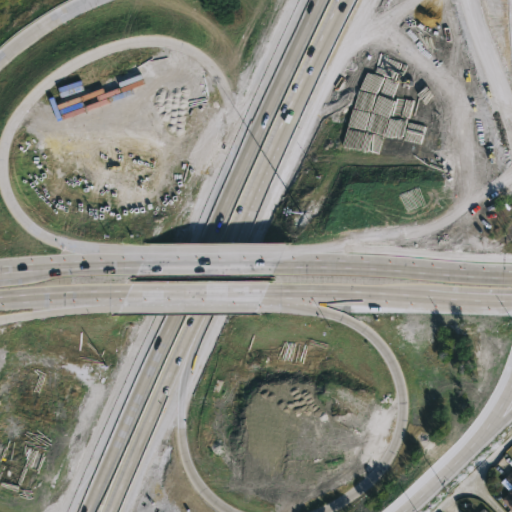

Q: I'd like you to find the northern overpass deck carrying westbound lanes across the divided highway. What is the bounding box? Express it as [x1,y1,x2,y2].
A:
[136,244,288,276]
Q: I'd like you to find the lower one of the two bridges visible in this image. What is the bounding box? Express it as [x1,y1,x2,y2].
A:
[119,282,274,315]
